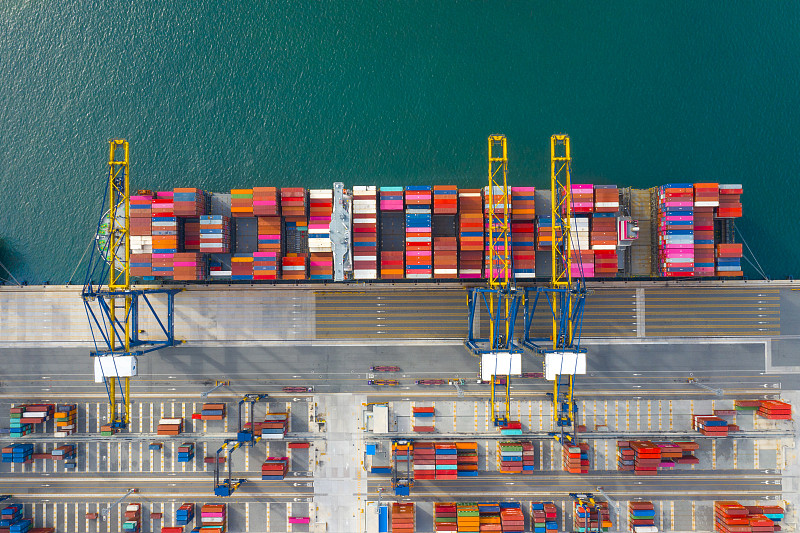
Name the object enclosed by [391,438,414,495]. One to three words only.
container crane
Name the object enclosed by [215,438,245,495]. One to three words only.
container crane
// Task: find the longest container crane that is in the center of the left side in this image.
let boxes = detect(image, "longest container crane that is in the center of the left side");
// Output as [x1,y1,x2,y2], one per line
[80,136,184,429]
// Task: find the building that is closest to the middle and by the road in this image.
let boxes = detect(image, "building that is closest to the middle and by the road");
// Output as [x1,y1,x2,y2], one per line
[366,404,388,434]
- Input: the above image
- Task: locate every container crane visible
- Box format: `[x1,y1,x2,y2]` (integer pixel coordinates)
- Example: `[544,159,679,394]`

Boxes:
[549,393,580,447]
[572,492,603,533]
[215,438,245,495]
[80,136,184,429]
[514,134,590,427]
[460,134,523,427]
[391,438,414,495]
[238,395,267,449]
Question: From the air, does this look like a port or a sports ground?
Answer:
port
